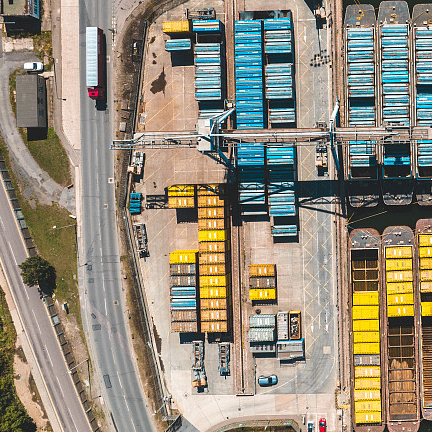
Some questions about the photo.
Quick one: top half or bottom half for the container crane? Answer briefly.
top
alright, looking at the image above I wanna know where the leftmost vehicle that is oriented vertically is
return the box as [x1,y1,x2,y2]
[85,23,103,97]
